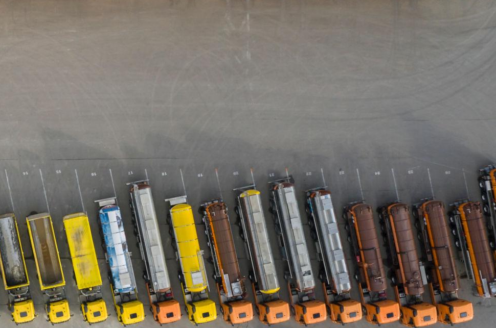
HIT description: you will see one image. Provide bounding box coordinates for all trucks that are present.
[125,179,184,328]
[231,183,294,327]
[0,210,40,328]
[376,198,440,328]
[263,177,330,327]
[300,185,366,328]
[164,192,220,328]
[94,193,148,327]
[199,197,257,327]
[342,198,402,328]
[410,195,476,328]
[26,209,76,328]
[61,210,112,328]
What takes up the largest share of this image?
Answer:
paved ground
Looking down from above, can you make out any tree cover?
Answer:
No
